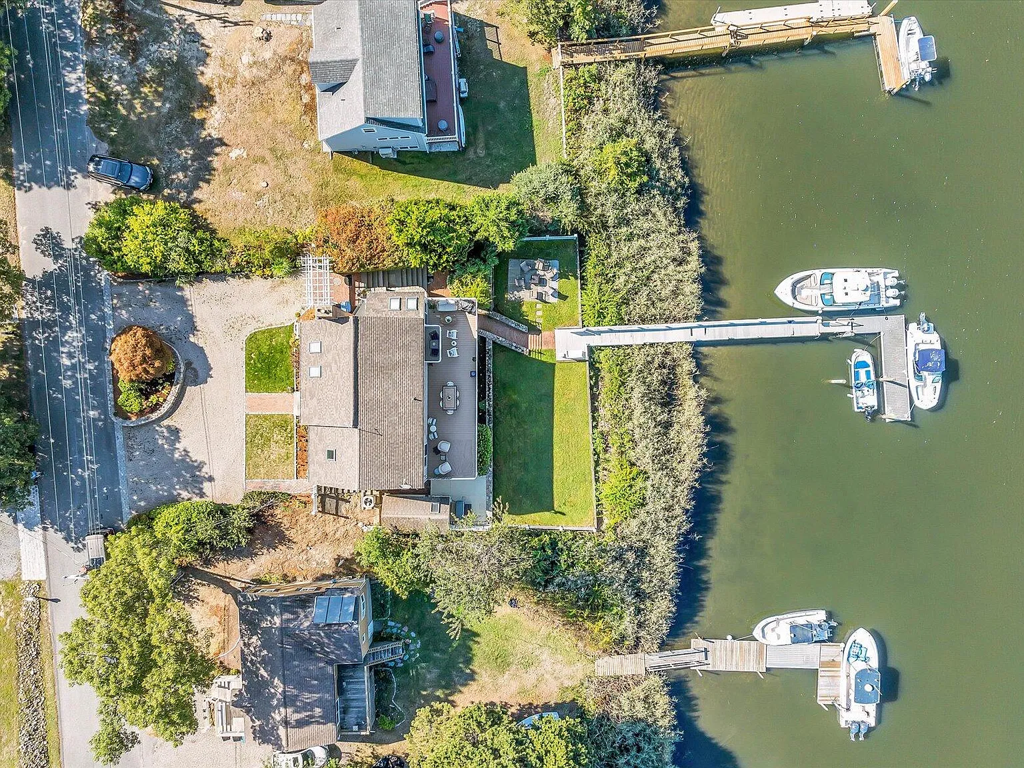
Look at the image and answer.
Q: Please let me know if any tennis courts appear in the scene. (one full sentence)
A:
No, no tennis court can be seen from above.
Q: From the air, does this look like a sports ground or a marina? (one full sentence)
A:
This image shows a marina.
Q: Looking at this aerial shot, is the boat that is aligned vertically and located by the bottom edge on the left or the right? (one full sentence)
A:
The boat that is aligned vertically and located by the bottom edge appears in the right half of the scene.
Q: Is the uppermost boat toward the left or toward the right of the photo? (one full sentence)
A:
The uppermost boat appears in the right half of the scene.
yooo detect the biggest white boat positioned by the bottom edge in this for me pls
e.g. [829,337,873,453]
[837,628,886,737]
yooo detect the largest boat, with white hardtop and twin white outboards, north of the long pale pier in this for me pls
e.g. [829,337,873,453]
[774,268,904,311]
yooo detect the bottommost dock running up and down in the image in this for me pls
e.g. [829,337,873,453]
[816,642,844,706]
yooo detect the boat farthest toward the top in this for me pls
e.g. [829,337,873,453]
[898,17,940,95]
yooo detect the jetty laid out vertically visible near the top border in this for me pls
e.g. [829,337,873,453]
[870,15,908,95]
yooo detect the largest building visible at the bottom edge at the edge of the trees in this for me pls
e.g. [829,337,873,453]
[239,580,404,748]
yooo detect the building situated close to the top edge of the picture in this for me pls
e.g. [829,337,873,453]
[305,0,461,157]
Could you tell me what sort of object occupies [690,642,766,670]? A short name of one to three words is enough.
pier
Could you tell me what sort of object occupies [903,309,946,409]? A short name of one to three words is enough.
boat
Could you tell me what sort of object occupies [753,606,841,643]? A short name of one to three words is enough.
boat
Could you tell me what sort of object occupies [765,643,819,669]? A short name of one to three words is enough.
pier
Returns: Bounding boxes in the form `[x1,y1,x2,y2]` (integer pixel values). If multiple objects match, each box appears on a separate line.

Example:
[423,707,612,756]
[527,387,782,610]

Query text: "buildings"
[305,0,461,157]
[239,580,404,748]
[381,493,451,538]
[299,282,478,496]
